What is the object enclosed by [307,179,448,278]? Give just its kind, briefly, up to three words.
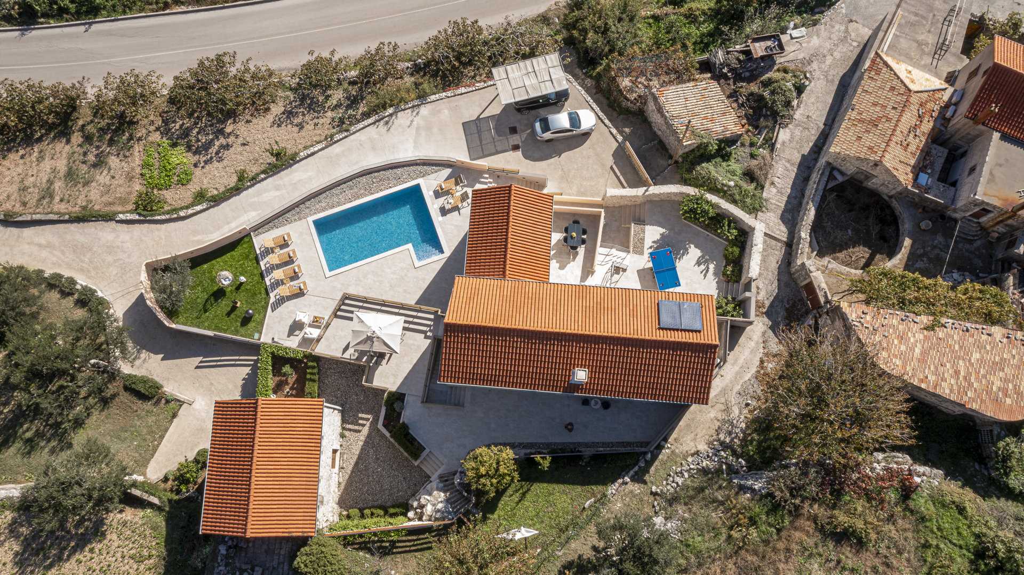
swimming pool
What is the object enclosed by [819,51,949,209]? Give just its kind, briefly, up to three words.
house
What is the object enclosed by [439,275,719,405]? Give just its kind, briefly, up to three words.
house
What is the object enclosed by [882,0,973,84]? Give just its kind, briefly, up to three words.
building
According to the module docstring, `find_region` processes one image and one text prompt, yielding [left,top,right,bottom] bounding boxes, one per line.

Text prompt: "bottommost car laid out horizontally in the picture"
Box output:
[529,109,602,150]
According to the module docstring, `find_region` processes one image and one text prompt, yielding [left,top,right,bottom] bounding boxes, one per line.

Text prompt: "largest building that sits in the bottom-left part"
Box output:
[199,398,340,537]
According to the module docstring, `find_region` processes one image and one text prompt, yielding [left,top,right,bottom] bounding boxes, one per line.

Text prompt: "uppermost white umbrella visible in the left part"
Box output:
[350,312,404,353]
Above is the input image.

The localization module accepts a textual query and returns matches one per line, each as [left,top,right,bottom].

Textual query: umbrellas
[350,312,404,353]
[498,529,538,547]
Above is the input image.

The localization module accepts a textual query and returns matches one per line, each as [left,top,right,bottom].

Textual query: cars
[508,79,578,120]
[529,109,602,150]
